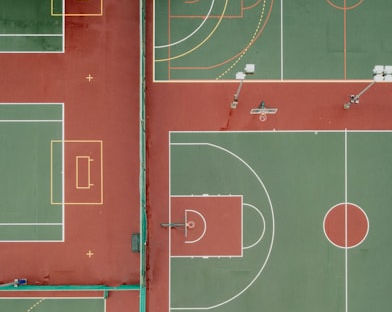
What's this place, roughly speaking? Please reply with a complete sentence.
This looks like a sports ground.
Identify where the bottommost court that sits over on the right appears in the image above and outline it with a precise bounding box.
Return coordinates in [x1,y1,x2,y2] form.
[168,128,392,312]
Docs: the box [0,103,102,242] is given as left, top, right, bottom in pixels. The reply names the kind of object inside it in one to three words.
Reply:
tennis court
